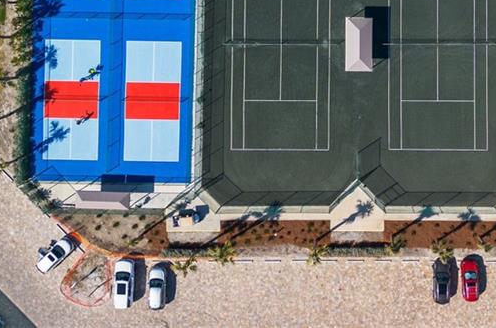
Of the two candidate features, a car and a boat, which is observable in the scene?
car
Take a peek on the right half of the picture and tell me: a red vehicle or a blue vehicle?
red vehicle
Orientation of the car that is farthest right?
from top to bottom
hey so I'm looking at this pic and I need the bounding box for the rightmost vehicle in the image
[459,256,481,300]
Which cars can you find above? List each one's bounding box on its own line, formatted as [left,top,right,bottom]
[147,262,168,309]
[35,234,77,274]
[432,257,453,303]
[113,257,137,308]
[459,256,481,300]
